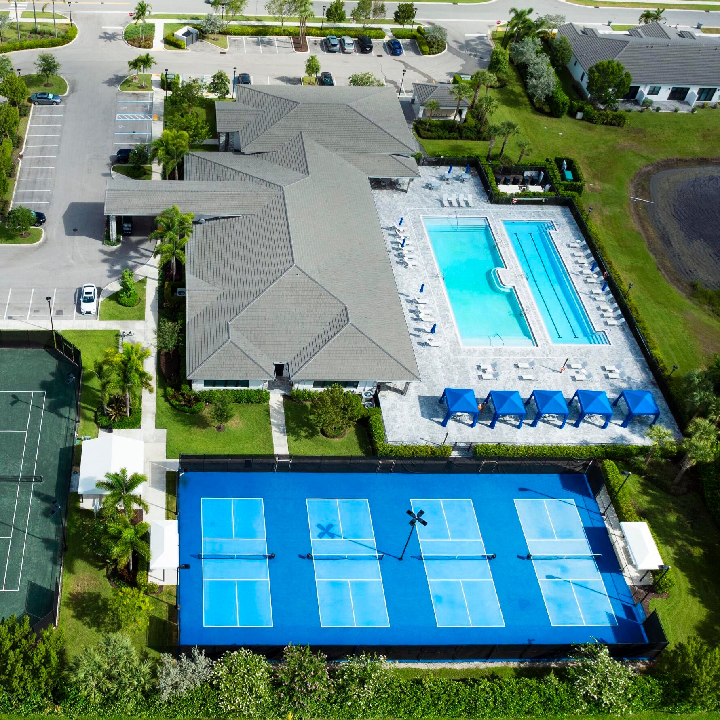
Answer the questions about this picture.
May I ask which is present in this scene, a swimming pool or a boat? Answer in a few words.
swimming pool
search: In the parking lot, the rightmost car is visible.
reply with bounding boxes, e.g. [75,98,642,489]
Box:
[387,39,405,56]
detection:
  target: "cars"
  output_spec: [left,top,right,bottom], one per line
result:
[324,36,341,52]
[387,39,405,56]
[238,71,252,84]
[340,38,356,53]
[79,284,97,315]
[15,211,51,226]
[320,71,336,85]
[120,217,136,240]
[112,147,144,162]
[358,37,375,53]
[31,91,63,104]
